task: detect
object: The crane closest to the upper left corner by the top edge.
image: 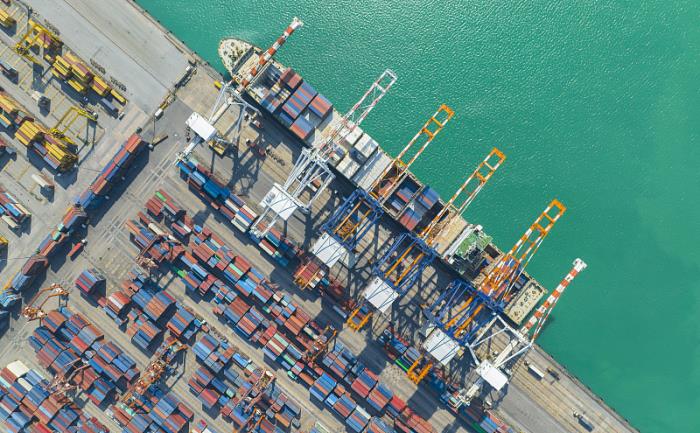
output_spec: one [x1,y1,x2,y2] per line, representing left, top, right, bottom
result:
[12,21,66,70]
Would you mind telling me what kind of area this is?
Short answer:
port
